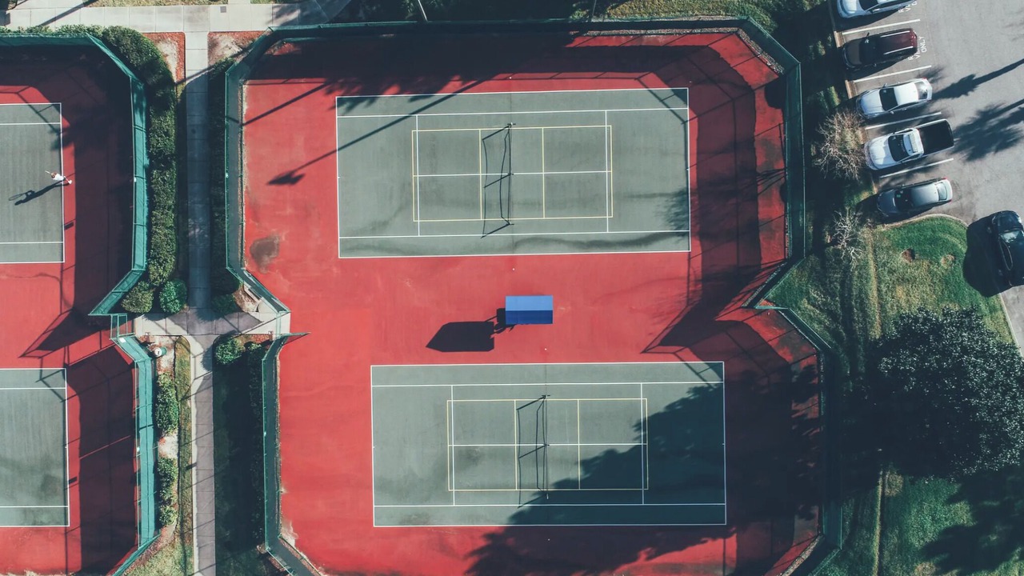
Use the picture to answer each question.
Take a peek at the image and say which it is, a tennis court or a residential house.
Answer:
tennis court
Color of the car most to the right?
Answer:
black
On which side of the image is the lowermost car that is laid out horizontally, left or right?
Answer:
right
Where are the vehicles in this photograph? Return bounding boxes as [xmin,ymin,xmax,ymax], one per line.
[835,0,913,18]
[874,177,956,219]
[860,121,957,170]
[991,209,1024,287]
[853,76,936,118]
[840,29,920,71]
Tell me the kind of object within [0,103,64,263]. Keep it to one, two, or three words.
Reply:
tennis court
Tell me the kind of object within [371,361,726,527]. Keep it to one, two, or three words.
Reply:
tennis court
